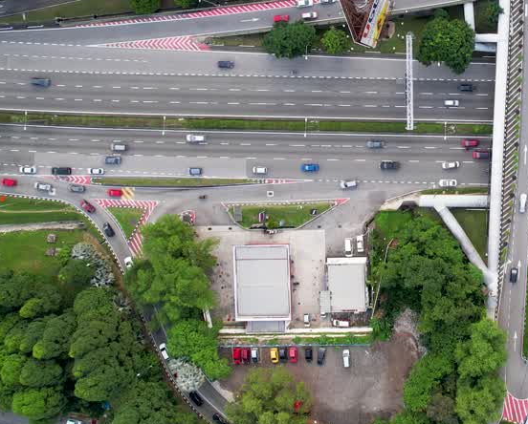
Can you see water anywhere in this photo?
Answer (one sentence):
No, water can't be seen anywhere here.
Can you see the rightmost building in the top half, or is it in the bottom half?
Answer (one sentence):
The rightmost building sits in the bottom half of the picture.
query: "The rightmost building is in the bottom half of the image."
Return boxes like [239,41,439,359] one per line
[320,254,369,313]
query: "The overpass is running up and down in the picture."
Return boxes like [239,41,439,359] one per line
[496,0,528,358]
